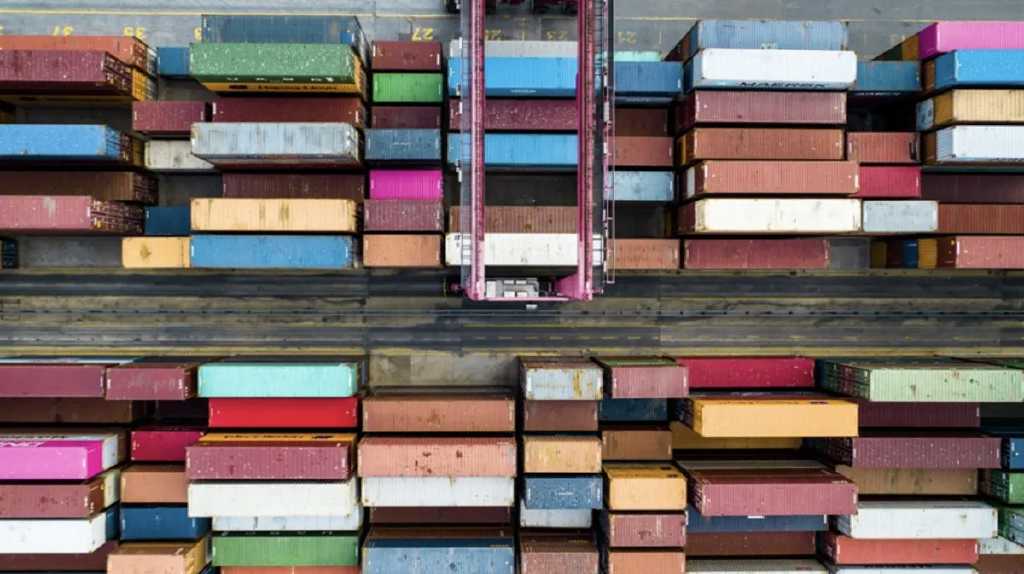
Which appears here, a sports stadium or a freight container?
freight container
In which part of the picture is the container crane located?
top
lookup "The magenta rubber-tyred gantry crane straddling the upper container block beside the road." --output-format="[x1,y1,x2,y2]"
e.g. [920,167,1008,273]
[448,0,615,300]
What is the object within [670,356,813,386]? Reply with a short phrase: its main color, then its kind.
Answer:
red shipping container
